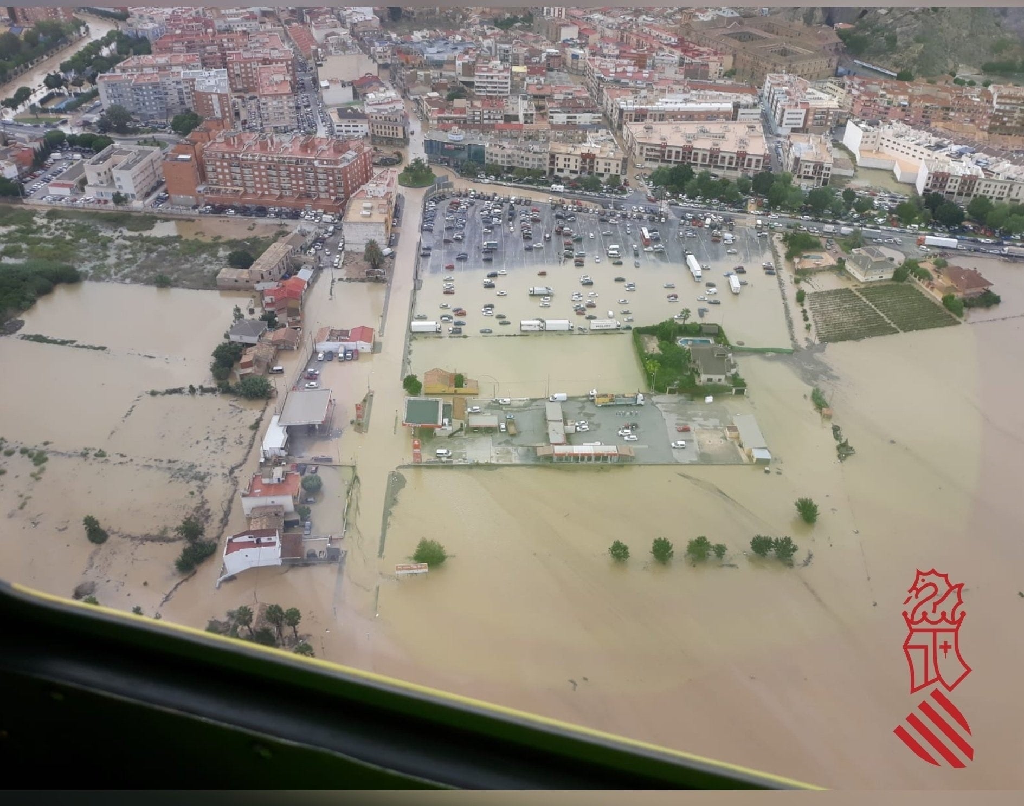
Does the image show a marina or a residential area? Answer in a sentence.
The area seen from above is a residential area.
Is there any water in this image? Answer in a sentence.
Yes, there is water in the image.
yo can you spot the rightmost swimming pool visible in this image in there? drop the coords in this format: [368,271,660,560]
[795,249,837,267]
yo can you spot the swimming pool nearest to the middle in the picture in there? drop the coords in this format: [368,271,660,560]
[680,335,716,349]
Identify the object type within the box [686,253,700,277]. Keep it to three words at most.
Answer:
vehicle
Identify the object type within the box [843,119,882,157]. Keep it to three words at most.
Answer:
building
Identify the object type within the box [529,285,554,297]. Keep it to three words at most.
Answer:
vehicle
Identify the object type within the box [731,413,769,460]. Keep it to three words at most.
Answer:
shed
